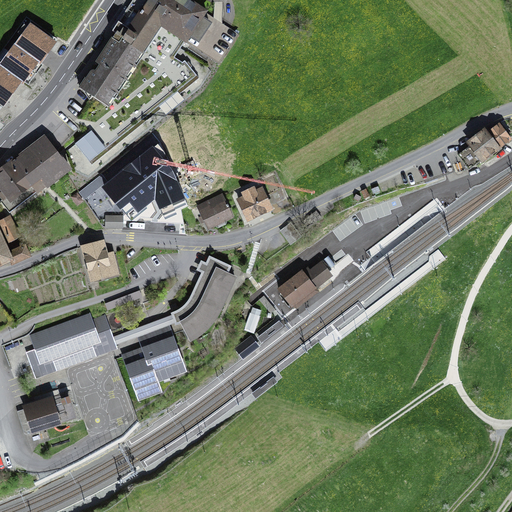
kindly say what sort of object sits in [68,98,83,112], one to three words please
vehicle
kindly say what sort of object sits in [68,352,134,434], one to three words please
playground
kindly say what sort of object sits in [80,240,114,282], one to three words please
house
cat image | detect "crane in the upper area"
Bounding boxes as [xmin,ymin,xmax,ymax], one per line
[150,156,313,192]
